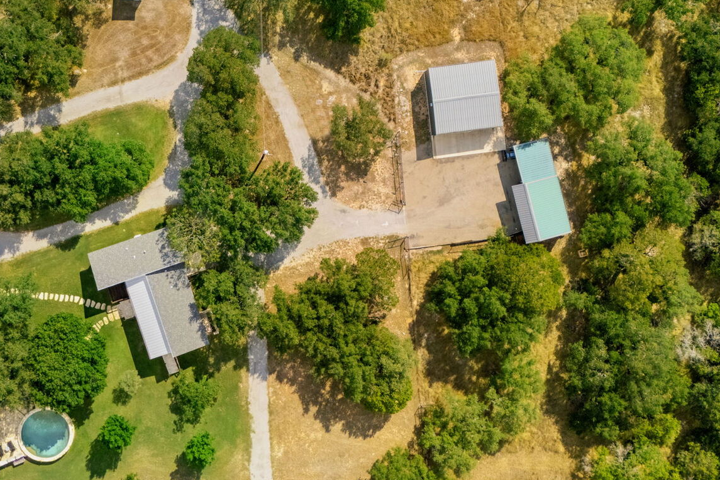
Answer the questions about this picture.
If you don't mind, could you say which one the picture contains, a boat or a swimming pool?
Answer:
swimming pool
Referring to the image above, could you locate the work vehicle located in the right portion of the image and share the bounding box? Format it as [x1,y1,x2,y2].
[500,147,516,160]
